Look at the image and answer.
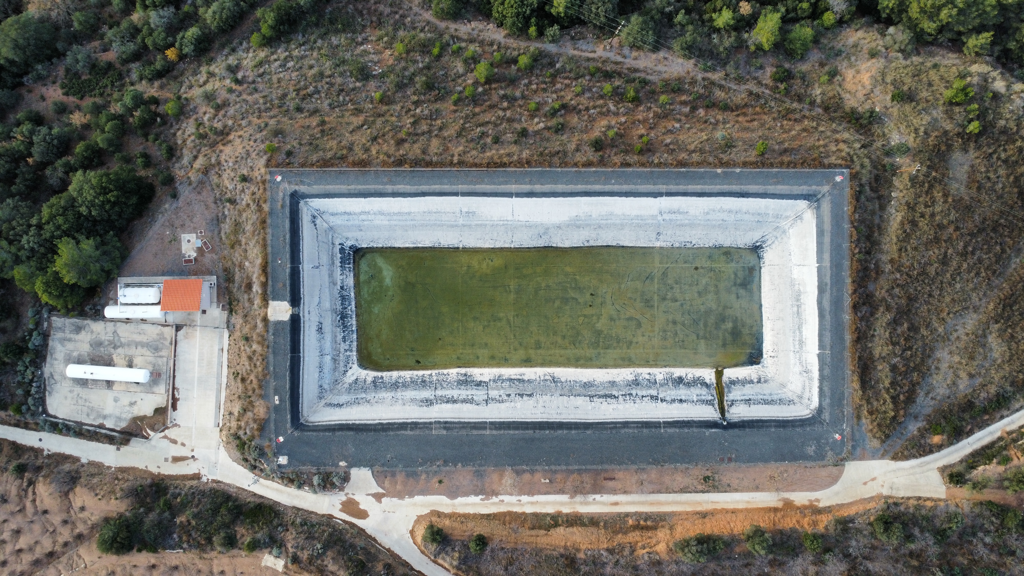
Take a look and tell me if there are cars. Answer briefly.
No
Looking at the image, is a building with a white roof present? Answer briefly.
No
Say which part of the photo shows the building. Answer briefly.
left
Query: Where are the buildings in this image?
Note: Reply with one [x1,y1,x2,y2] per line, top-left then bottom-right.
[160,279,209,312]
